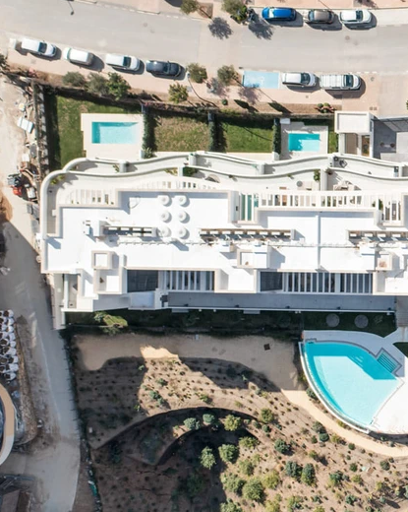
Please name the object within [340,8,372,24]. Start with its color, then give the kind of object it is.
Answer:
white car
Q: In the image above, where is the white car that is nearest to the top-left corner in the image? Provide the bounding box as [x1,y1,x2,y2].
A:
[18,38,58,58]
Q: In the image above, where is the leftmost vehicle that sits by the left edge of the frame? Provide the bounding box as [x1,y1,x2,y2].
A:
[3,167,27,197]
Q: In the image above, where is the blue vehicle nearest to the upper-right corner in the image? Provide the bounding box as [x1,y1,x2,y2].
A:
[263,5,297,23]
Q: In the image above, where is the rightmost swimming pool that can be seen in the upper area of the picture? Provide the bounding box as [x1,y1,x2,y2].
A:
[281,126,328,159]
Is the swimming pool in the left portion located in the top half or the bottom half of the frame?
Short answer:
top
